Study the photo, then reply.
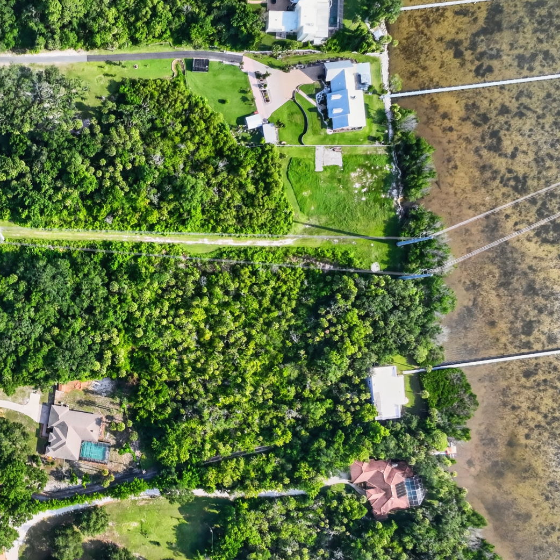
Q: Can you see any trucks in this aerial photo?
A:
No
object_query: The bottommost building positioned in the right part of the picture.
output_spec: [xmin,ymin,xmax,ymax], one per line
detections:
[349,459,414,517]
